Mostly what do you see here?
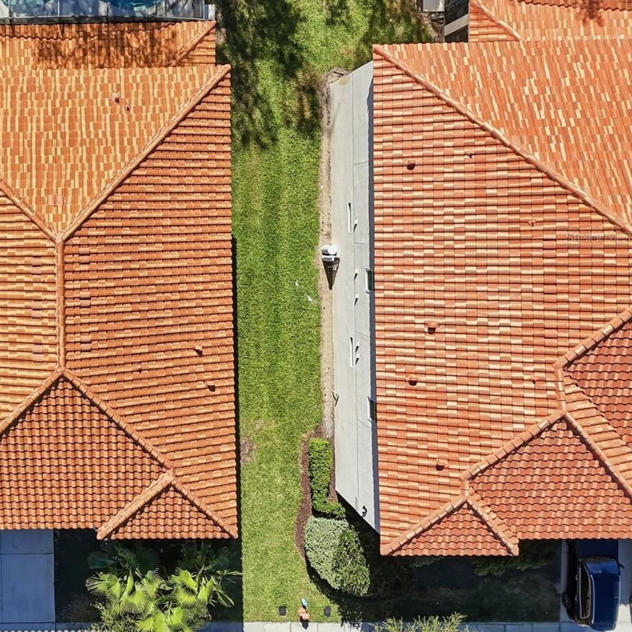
buildings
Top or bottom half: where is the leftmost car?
bottom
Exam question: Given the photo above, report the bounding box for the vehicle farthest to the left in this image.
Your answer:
[564,540,629,631]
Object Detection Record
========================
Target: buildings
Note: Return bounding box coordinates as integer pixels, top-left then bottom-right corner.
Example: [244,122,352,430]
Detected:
[0,17,243,546]
[329,0,632,559]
